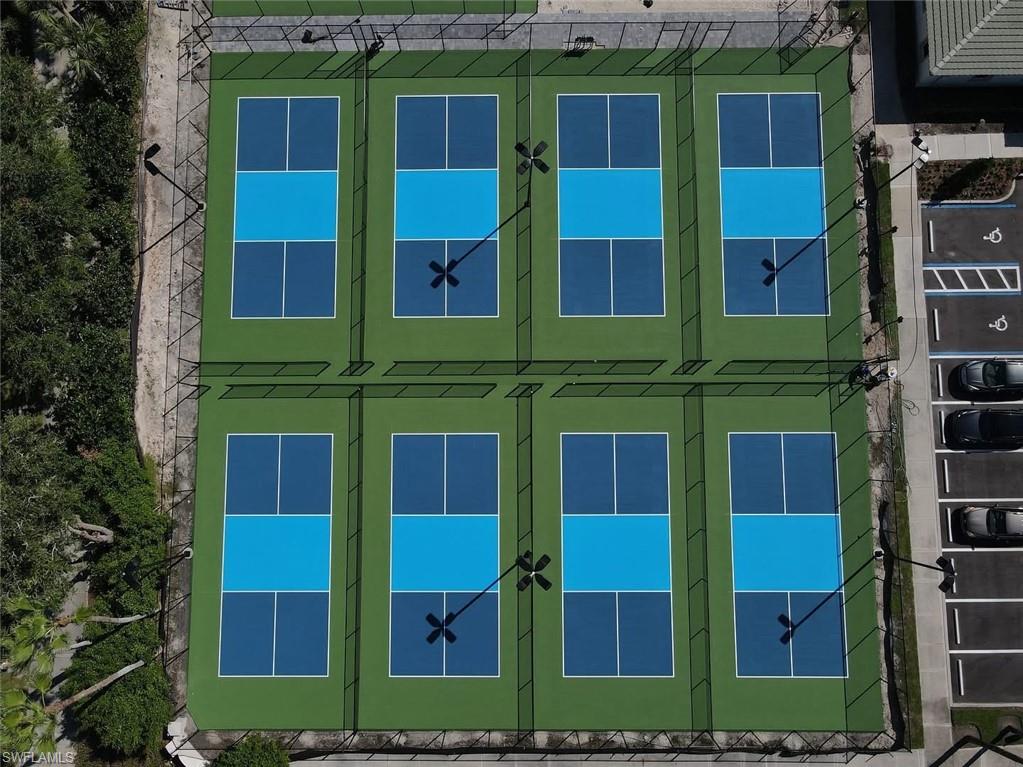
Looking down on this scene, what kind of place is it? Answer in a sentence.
The area seen from above is a sports ground.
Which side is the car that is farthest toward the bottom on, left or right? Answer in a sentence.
The car that is farthest toward the bottom is on the right side of the image.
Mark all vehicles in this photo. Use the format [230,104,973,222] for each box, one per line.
[958,503,1023,545]
[953,354,1023,394]
[946,403,1023,445]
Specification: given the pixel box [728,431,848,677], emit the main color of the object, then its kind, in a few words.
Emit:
blue sports court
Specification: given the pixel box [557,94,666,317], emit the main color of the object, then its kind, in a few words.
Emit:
blue sports court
